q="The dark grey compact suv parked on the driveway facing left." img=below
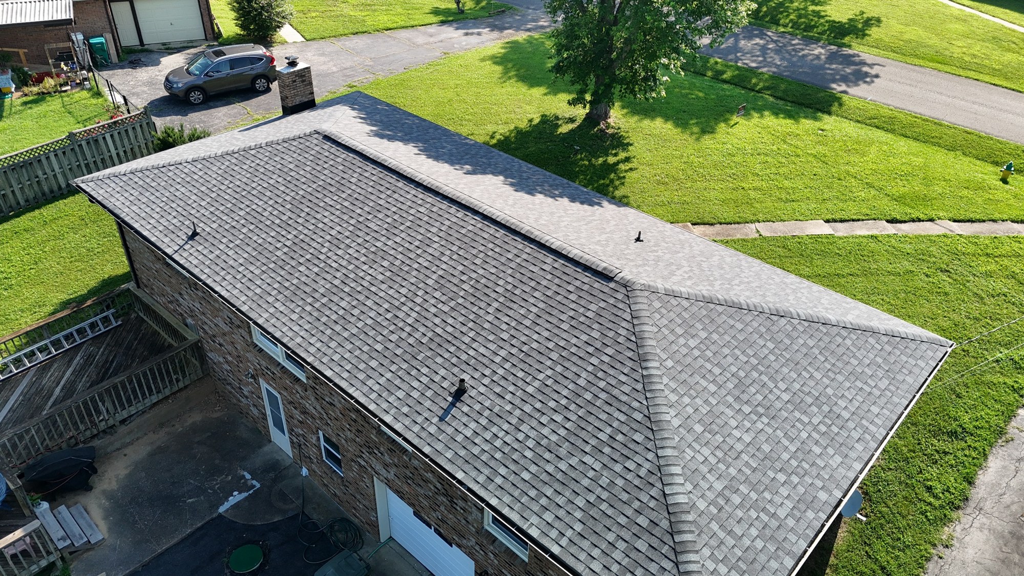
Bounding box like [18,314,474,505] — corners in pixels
[162,41,278,104]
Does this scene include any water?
No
